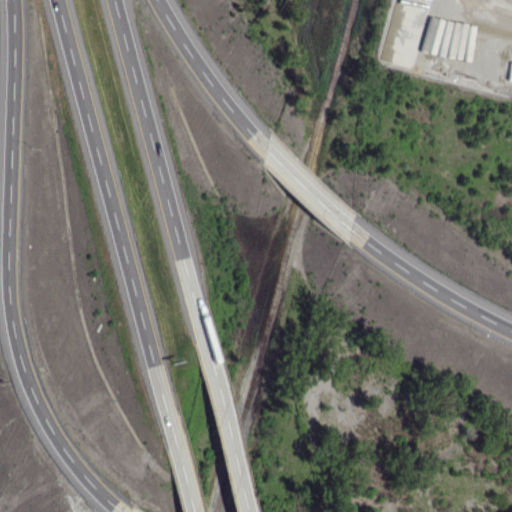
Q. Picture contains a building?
No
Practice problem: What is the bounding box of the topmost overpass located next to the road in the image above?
[258,138,364,240]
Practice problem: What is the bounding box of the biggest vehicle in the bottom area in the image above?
[198,298,224,363]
